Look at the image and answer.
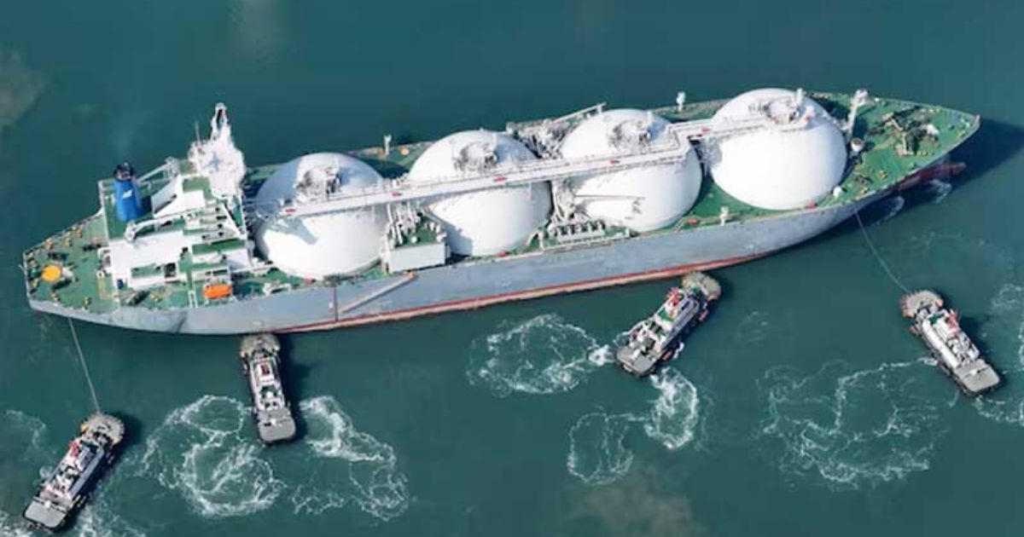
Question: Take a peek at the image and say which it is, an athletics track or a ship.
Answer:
ship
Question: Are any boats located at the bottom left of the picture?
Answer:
Yes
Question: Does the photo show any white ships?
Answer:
Yes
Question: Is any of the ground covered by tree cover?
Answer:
No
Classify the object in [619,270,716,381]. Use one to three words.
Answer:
boat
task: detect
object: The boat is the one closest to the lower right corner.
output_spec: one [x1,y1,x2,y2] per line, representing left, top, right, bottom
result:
[907,286,1000,396]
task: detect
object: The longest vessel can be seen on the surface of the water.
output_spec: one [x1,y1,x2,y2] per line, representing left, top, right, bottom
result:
[23,82,979,334]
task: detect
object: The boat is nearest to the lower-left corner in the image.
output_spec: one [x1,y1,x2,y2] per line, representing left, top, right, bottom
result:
[27,411,116,533]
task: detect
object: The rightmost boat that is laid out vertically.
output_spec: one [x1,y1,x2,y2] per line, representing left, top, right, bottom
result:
[241,334,295,445]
